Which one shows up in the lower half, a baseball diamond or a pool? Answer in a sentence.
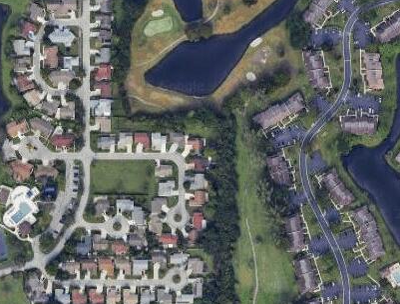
The feature located in the lower half is a pool.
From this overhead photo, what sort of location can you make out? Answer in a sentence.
What you see here is a residential area.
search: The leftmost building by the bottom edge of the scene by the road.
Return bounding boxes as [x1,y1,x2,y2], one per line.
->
[22,275,52,304]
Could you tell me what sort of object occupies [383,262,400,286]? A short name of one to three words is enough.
swimming pool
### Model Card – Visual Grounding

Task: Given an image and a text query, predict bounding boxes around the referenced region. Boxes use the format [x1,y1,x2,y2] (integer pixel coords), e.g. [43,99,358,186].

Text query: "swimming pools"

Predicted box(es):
[0,186,39,228]
[383,262,400,286]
